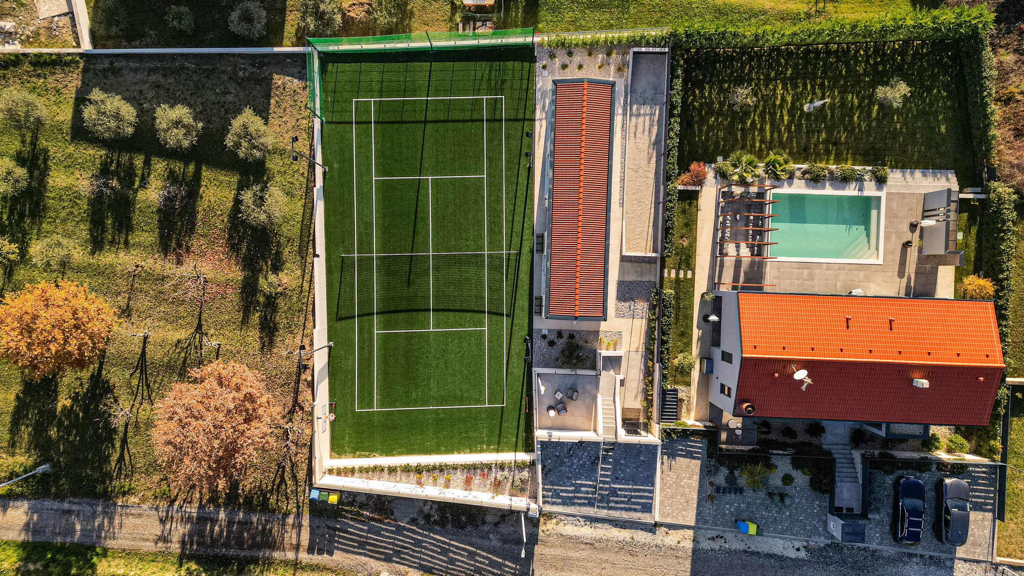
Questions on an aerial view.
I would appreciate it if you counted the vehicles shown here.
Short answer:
2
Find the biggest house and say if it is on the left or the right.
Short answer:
right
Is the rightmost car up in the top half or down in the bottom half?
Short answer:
bottom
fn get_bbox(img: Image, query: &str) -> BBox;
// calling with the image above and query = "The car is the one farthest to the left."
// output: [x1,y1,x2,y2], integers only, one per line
[892,475,929,545]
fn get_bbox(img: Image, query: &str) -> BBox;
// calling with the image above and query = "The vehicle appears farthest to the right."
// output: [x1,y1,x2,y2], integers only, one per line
[937,477,975,545]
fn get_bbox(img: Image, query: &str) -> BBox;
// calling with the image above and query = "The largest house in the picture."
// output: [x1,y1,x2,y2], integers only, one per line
[708,290,1011,449]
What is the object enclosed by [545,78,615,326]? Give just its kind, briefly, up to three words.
building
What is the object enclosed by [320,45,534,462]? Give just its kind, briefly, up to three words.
tennis court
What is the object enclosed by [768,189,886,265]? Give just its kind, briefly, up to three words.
swimming pool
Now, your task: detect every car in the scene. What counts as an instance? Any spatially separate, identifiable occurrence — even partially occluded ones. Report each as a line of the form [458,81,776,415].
[937,477,975,545]
[892,475,929,545]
